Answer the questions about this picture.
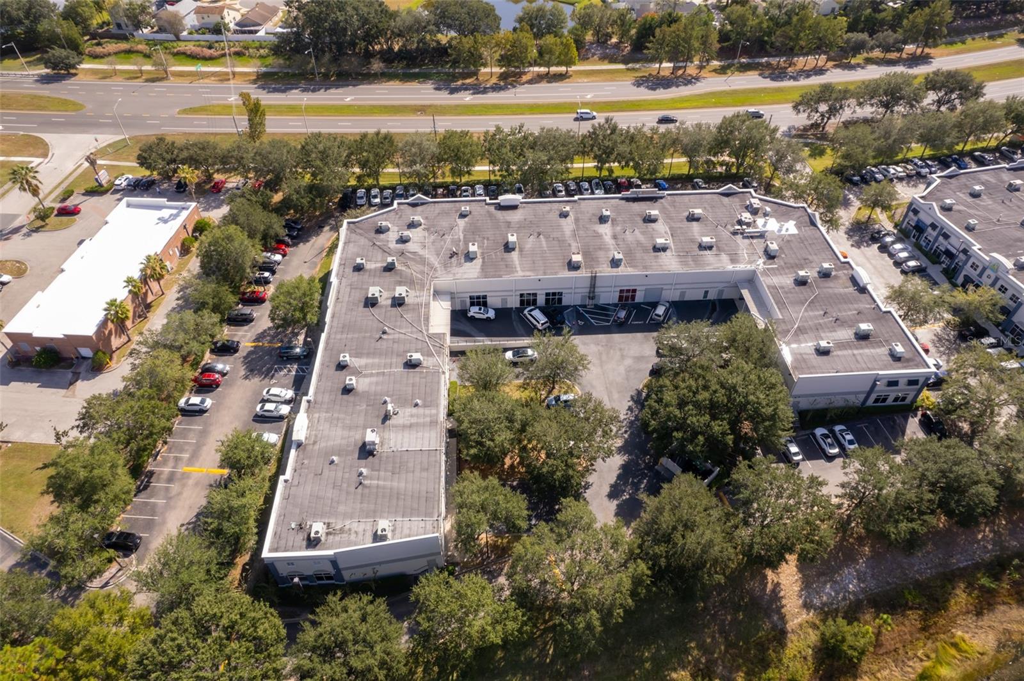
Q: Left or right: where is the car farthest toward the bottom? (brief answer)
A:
left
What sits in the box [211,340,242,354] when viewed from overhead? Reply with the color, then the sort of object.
black car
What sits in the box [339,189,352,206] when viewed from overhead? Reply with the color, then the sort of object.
black vehicle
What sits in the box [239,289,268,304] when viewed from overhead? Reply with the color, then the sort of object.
red car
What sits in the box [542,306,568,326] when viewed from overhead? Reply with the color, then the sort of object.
black car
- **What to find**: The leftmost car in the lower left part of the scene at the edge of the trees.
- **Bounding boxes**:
[101,531,144,553]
